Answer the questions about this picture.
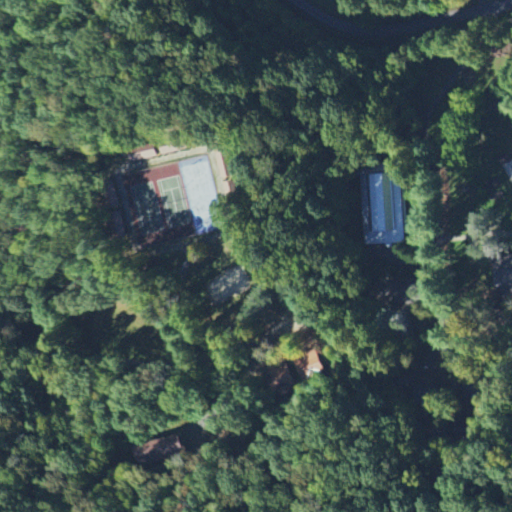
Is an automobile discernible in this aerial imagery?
No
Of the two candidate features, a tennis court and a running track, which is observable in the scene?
tennis court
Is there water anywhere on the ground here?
No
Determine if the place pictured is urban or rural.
rural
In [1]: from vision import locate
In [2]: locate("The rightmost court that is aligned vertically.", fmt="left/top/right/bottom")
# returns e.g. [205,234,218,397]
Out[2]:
[179,155,224,234]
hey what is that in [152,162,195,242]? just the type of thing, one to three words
tennis court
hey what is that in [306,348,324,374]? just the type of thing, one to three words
house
